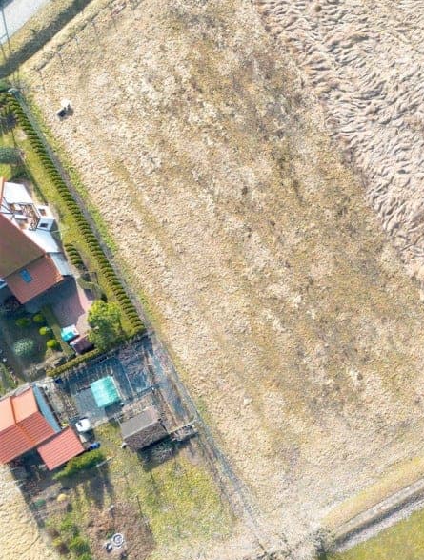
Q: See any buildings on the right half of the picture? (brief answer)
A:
No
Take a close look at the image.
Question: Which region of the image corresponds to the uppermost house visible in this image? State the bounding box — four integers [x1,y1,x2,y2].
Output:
[0,169,87,303]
